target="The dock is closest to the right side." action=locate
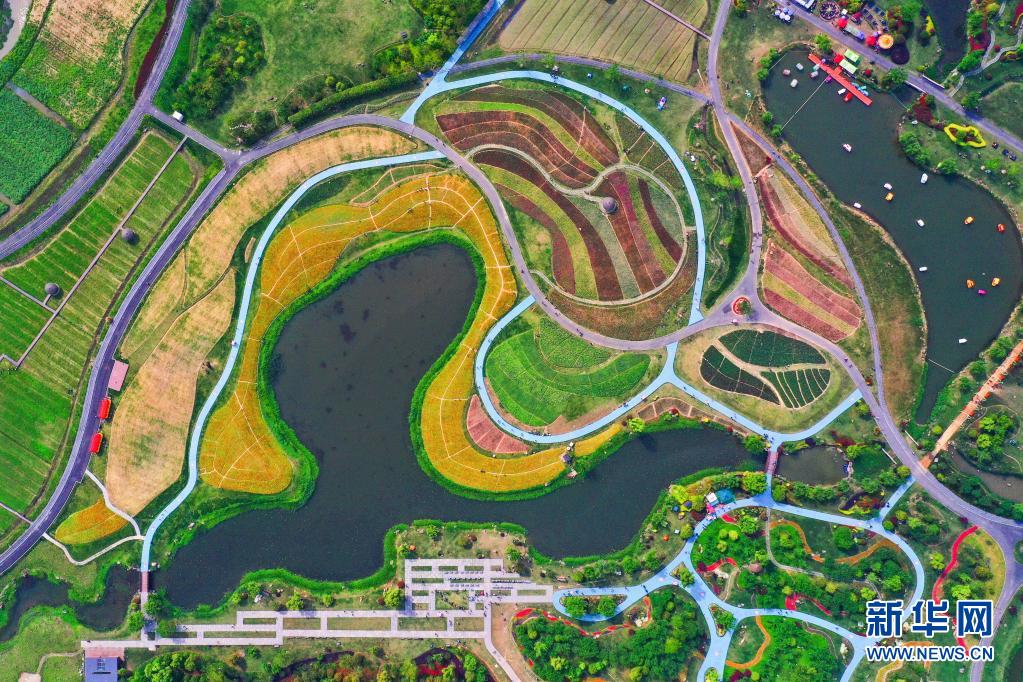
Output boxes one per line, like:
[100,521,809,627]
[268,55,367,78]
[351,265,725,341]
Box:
[807,54,872,105]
